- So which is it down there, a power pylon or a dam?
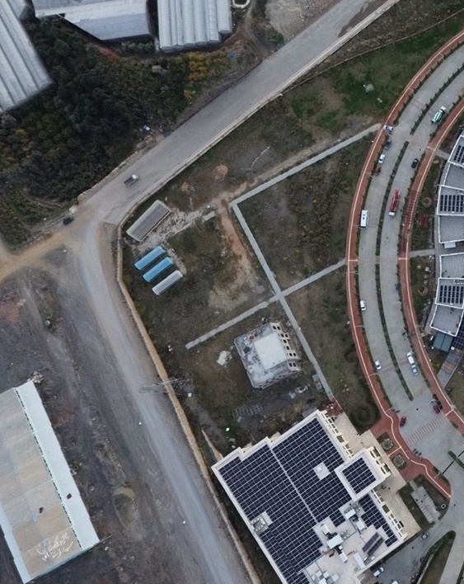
power pylon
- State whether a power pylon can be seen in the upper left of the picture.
No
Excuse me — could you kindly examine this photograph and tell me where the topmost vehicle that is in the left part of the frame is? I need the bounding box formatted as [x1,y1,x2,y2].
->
[124,174,141,186]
